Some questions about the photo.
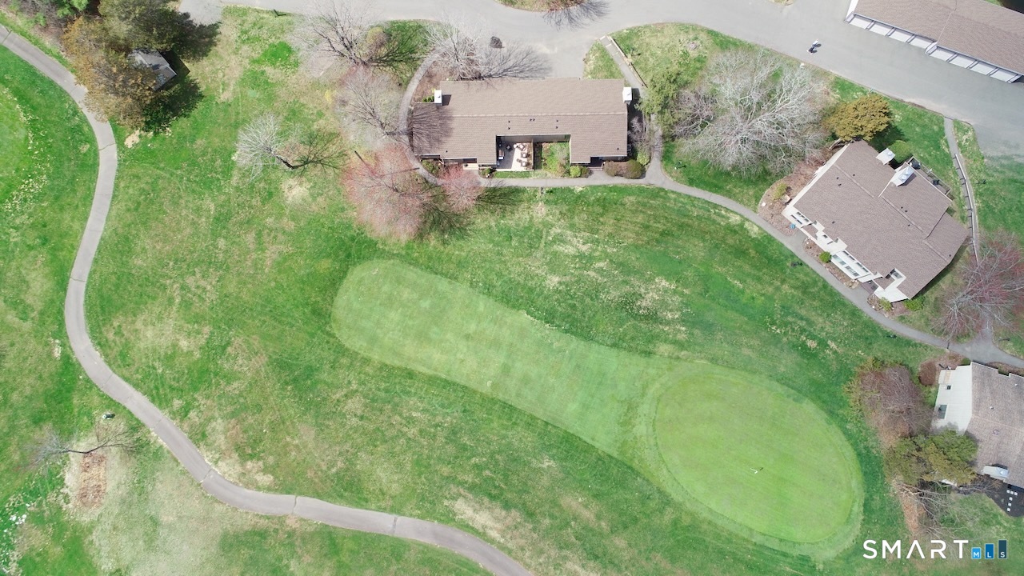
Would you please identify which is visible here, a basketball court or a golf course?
golf course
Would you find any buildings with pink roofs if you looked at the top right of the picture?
No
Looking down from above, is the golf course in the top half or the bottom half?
bottom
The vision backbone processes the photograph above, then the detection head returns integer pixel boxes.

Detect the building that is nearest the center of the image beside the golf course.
[412,79,632,171]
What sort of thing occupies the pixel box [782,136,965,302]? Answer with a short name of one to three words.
house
